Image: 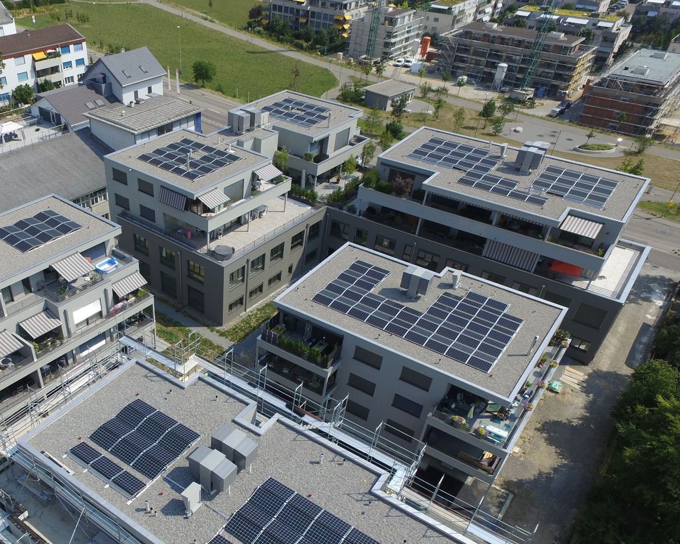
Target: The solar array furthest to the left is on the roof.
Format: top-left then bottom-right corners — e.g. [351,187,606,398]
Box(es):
[0,210,84,254]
